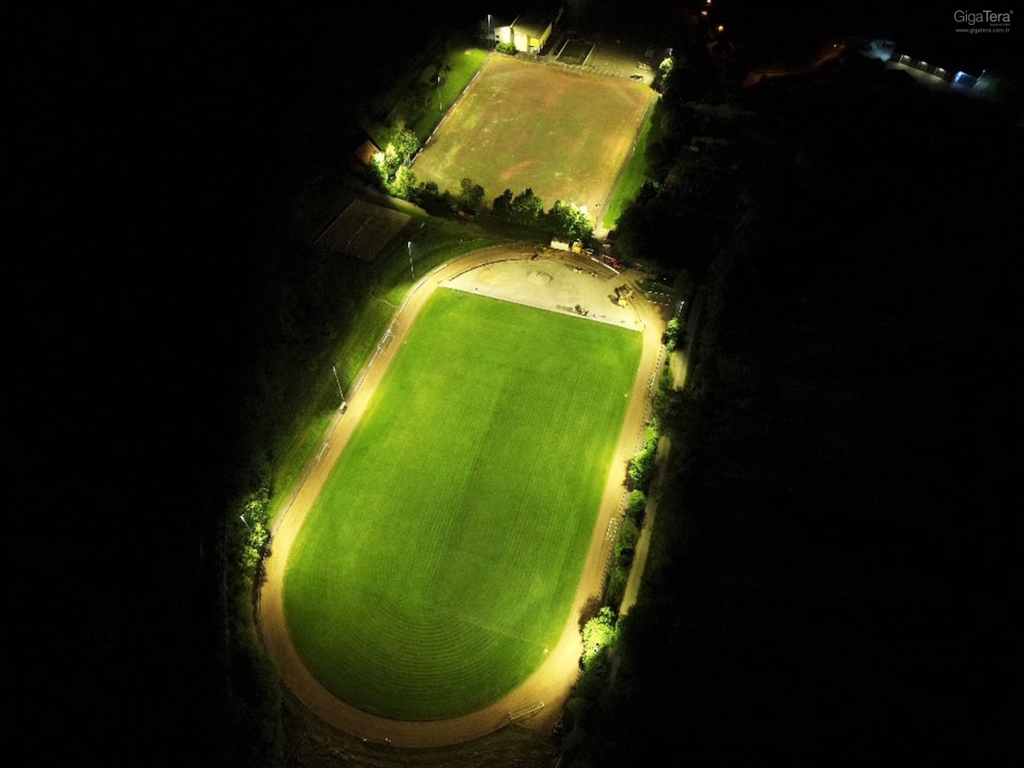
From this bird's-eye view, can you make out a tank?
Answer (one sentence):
No, the scene contains no tank.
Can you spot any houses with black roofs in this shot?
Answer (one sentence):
Yes, looking at the shot, I can spot a house with a black roof.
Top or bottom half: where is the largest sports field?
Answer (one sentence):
The bottom half of the photo is where the largest sports field is.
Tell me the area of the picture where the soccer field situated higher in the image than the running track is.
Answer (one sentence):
You can find the soccer field situated higher in the image than the running track in the top area of the picture.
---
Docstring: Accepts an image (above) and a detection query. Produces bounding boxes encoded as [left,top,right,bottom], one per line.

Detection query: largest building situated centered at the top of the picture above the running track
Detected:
[495,9,552,52]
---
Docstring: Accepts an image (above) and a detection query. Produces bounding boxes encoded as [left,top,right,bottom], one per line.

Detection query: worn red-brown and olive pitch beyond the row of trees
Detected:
[407,52,657,225]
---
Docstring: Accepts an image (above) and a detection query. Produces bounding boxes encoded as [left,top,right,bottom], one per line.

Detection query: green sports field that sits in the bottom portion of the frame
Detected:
[284,287,641,721]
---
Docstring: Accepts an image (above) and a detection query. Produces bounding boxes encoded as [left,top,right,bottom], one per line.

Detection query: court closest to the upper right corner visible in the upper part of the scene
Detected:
[555,40,593,65]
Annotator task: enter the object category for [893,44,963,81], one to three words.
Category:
building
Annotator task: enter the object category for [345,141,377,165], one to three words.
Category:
shed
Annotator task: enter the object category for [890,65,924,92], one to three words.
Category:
house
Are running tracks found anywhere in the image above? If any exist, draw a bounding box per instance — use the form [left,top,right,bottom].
[259,249,661,751]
